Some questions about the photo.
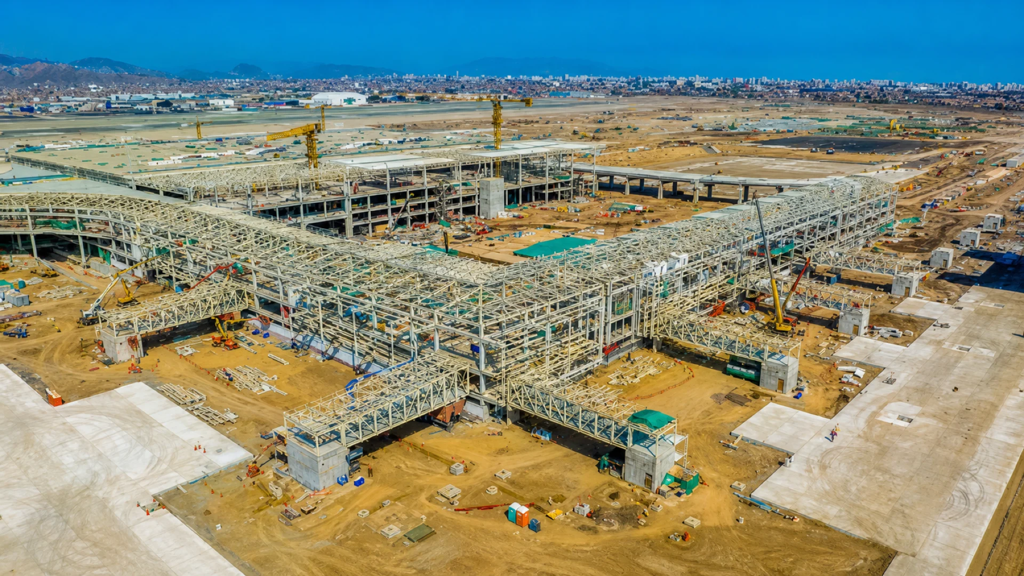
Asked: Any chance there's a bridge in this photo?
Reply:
Yes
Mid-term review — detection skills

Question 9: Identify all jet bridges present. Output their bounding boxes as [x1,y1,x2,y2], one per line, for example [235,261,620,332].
[280,353,475,457]
[504,359,683,459]
[809,241,924,277]
[651,301,808,366]
[94,278,263,338]
[742,266,874,313]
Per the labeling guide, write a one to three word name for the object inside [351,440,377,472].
truck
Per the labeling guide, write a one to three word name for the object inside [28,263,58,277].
work vehicle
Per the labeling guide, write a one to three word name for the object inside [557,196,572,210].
work vehicle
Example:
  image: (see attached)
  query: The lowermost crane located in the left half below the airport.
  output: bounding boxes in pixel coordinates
[76,250,167,327]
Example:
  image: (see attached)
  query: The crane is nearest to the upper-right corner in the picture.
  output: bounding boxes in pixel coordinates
[750,190,794,333]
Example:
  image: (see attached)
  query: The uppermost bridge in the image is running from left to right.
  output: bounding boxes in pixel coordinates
[550,163,804,202]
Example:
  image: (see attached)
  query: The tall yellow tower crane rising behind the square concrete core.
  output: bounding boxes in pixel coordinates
[407,91,532,175]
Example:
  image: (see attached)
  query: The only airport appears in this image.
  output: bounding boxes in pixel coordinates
[0,98,778,144]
